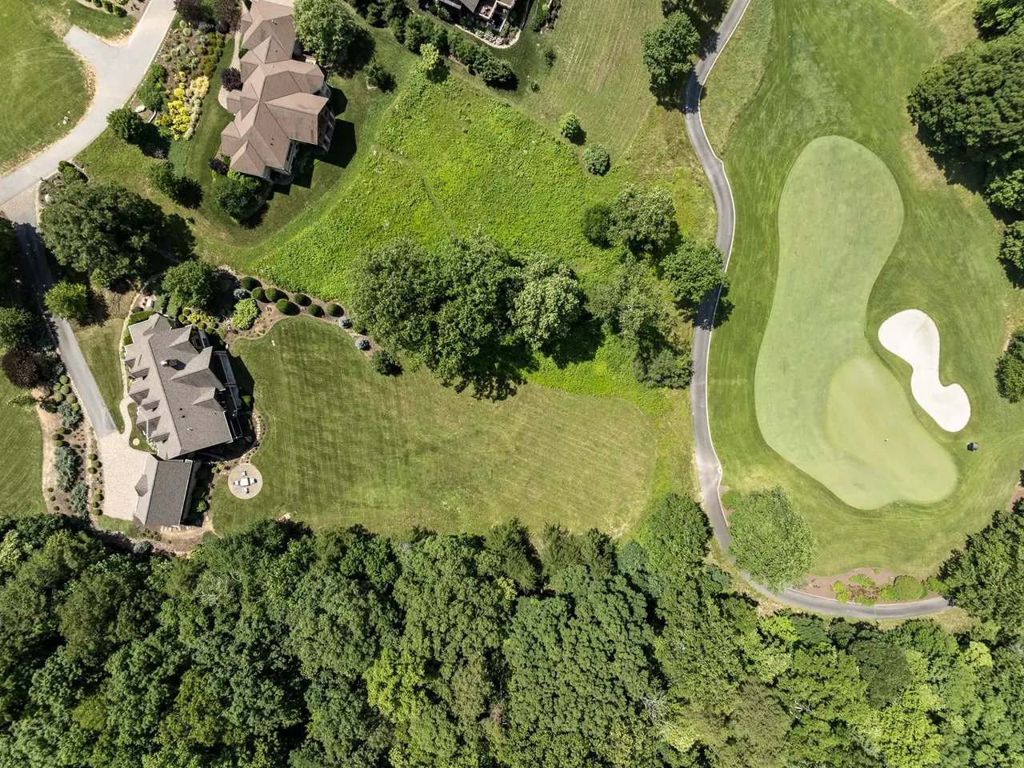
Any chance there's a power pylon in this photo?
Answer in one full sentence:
No, I find no power pylon anywhere in the image.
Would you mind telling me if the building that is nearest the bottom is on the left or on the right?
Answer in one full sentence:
The building that is nearest the bottom sits on the left side.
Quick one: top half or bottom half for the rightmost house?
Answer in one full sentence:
Seen from above, the rightmost house lies in the top half of the view.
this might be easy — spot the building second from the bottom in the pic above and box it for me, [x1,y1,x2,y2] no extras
[124,314,245,459]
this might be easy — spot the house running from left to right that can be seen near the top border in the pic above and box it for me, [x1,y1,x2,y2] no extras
[439,0,516,32]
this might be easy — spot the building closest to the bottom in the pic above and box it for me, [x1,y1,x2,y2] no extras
[133,454,197,528]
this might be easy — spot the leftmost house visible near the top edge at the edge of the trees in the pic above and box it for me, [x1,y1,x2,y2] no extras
[221,0,334,187]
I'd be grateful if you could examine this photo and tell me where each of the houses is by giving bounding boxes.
[124,314,245,459]
[221,0,334,187]
[439,0,516,32]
